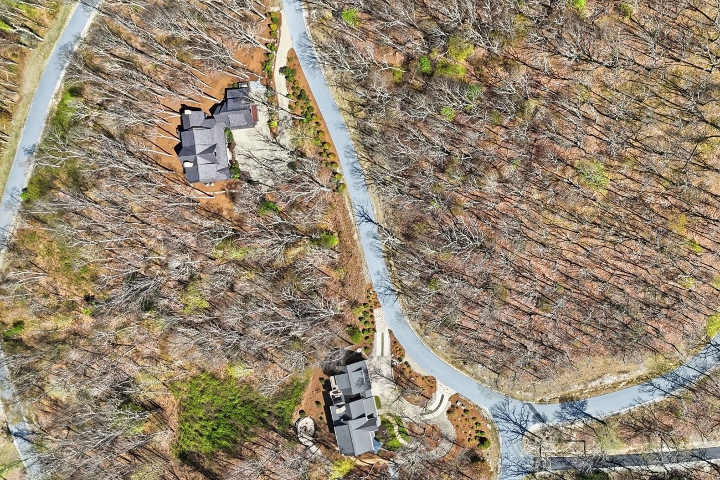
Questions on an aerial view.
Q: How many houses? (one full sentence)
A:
The photo contains 2 houses.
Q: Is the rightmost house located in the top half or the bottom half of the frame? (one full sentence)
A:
The rightmost house sits in the bottom half of the picture.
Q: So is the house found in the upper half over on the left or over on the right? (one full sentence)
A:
The house found in the upper half appears in the left half of the scene.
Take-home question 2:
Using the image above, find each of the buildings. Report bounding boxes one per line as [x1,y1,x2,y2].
[178,89,260,183]
[329,358,383,456]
